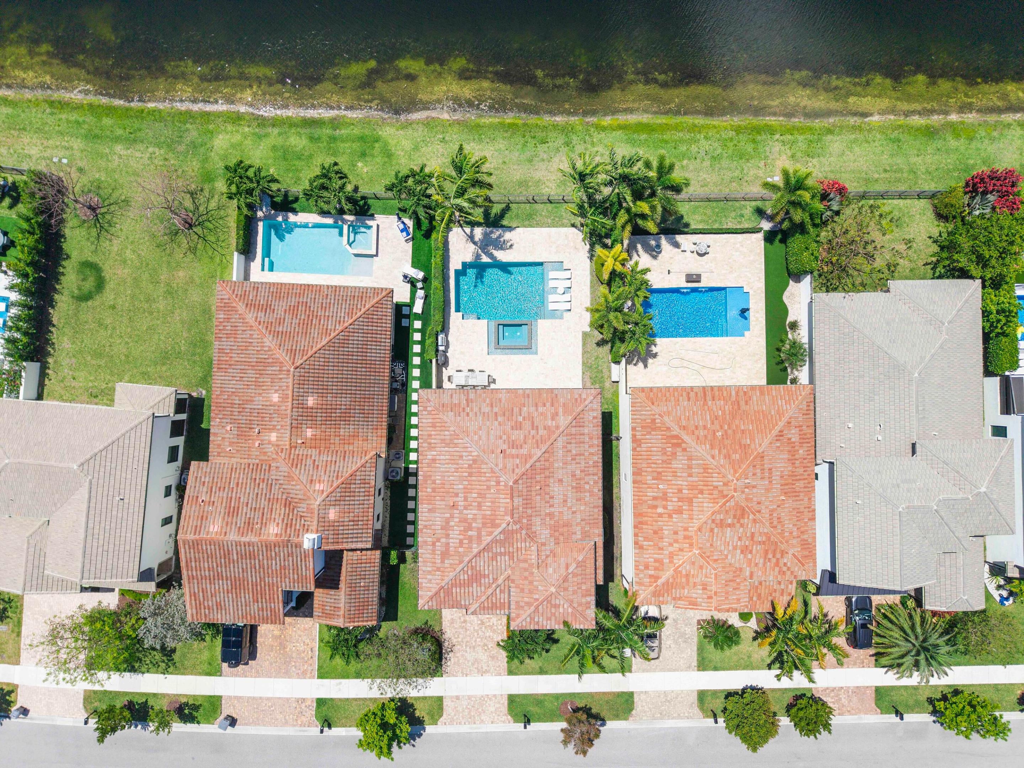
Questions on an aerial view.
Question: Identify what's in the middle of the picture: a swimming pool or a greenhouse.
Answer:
swimming pool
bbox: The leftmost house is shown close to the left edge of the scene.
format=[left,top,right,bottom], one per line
[0,381,191,595]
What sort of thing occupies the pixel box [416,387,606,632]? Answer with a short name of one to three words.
house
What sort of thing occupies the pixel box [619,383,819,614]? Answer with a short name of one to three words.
house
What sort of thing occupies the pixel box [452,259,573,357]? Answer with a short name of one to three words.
swimming pool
